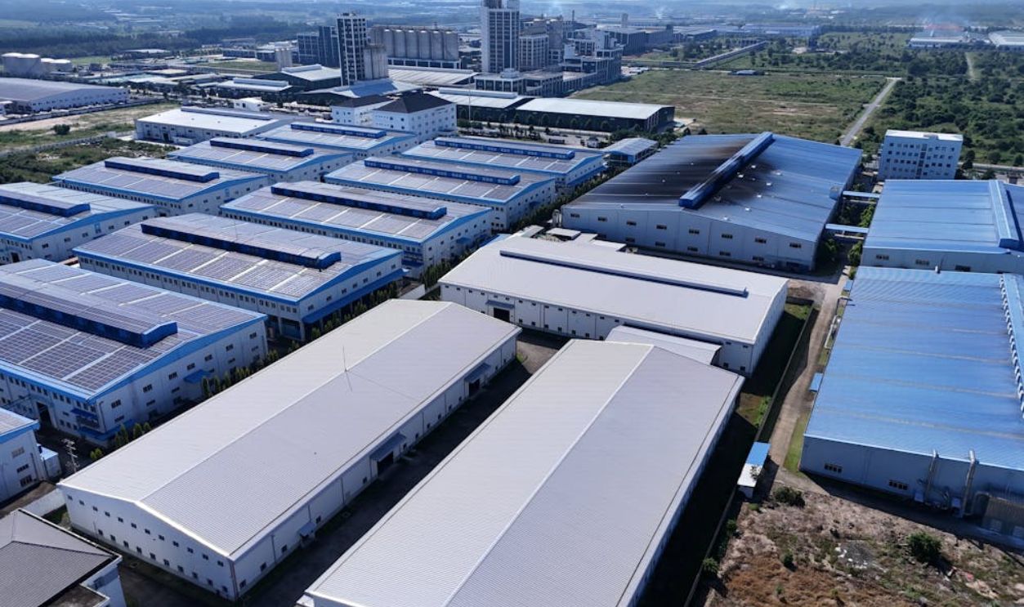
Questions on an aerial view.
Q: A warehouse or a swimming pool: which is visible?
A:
warehouse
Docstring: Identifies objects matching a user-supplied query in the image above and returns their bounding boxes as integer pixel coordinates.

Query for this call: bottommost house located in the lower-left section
[0,509,119,607]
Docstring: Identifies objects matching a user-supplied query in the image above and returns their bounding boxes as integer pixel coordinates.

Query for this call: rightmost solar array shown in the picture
[603,136,657,154]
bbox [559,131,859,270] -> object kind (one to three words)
building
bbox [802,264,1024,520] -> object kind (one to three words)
building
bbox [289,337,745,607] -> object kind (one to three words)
warehouse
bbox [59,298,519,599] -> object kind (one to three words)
warehouse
